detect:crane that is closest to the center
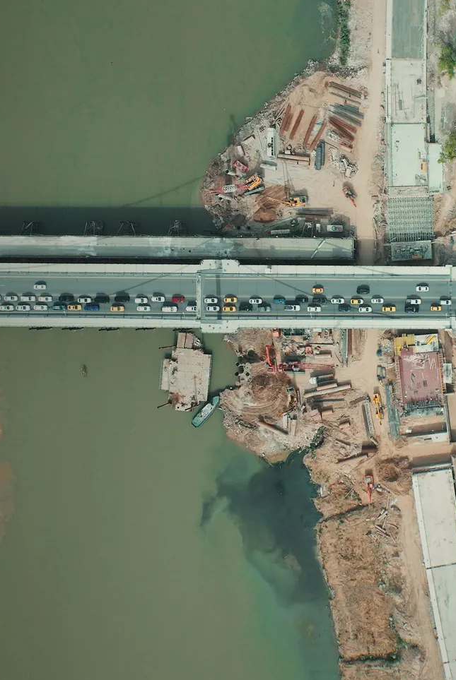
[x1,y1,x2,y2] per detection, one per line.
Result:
[273,360,337,374]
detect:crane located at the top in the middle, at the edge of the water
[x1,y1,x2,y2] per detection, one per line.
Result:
[206,173,265,194]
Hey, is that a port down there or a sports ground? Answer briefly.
port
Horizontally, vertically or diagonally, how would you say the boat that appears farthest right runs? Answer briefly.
diagonally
